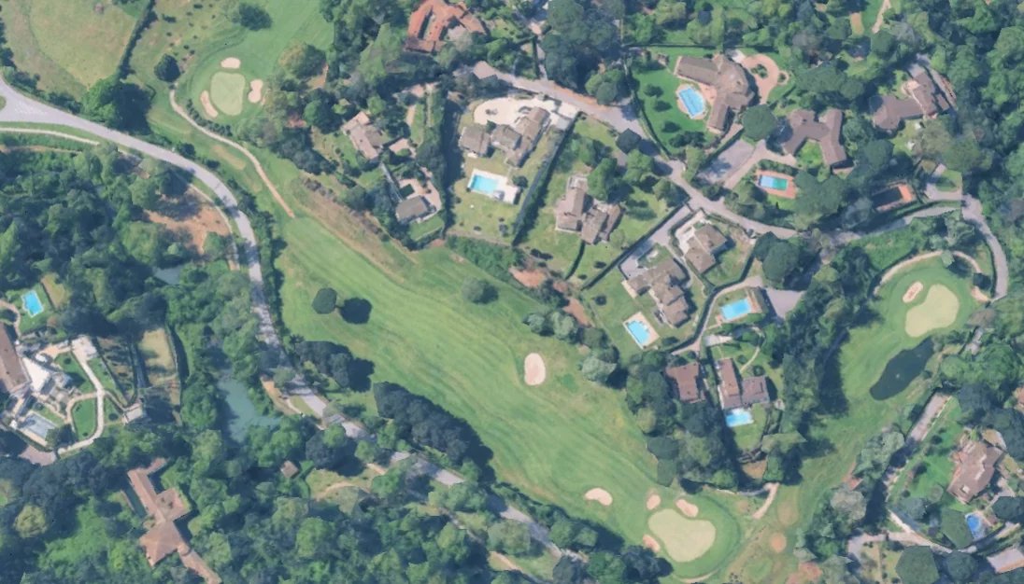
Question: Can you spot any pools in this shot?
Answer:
Yes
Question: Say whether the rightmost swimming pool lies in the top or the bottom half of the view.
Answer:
bottom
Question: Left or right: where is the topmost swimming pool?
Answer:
right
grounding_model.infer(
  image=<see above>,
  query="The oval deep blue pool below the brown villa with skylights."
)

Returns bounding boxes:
[965,511,996,540]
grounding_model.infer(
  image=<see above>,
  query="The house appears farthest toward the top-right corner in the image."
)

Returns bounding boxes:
[873,65,949,131]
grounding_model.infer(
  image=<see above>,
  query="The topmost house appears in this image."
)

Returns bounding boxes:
[405,0,486,53]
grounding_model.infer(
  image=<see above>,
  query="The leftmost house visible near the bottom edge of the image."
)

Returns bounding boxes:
[129,460,222,584]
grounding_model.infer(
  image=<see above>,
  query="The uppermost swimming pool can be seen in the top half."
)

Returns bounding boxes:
[676,84,708,119]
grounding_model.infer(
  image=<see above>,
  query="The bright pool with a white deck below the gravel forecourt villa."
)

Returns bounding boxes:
[467,169,519,204]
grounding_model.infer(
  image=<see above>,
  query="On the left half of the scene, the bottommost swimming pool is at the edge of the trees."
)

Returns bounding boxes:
[123,482,149,518]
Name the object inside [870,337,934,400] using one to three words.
pond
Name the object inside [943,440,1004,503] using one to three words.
house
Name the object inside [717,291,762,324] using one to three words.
swimming pool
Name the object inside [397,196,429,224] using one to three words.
building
